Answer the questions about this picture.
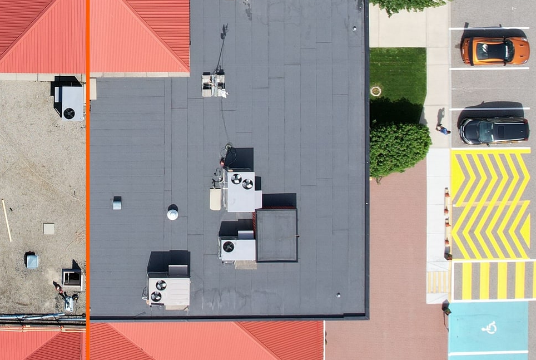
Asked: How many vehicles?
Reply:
2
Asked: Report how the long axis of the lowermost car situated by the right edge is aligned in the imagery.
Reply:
from left to right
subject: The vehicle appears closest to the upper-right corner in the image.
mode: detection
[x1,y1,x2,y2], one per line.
[460,33,530,67]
